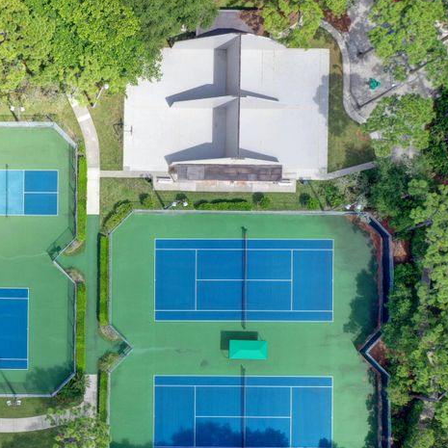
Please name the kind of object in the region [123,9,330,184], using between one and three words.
building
